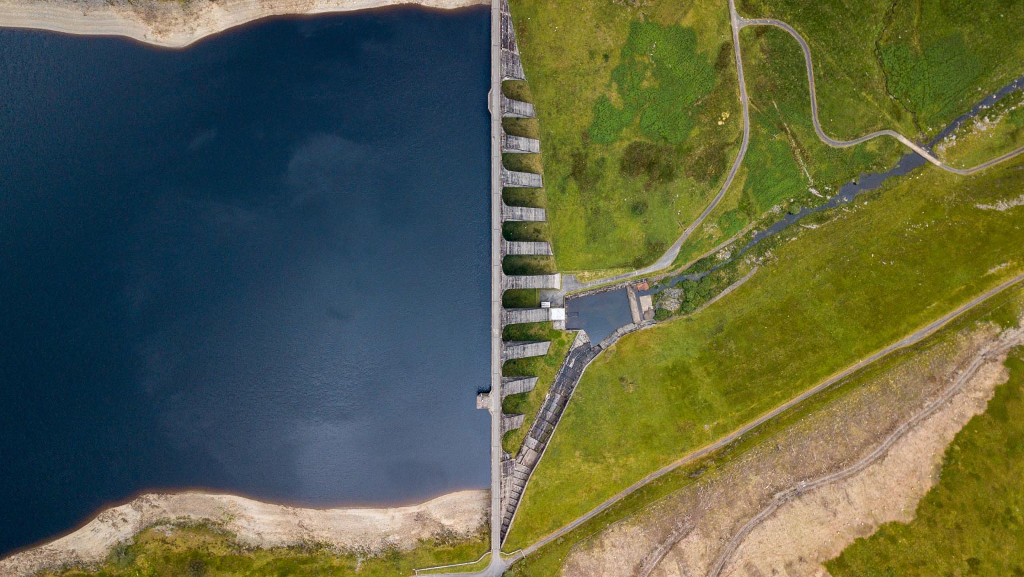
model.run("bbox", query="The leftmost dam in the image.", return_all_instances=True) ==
[477,0,557,553]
